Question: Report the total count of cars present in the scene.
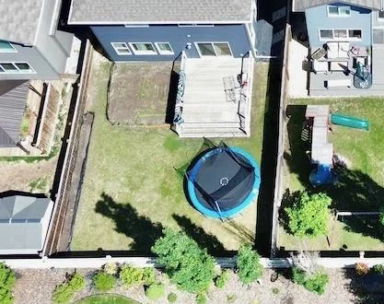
0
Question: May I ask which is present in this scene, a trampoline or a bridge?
trampoline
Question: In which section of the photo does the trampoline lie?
center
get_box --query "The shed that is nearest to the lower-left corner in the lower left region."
[0,192,52,253]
